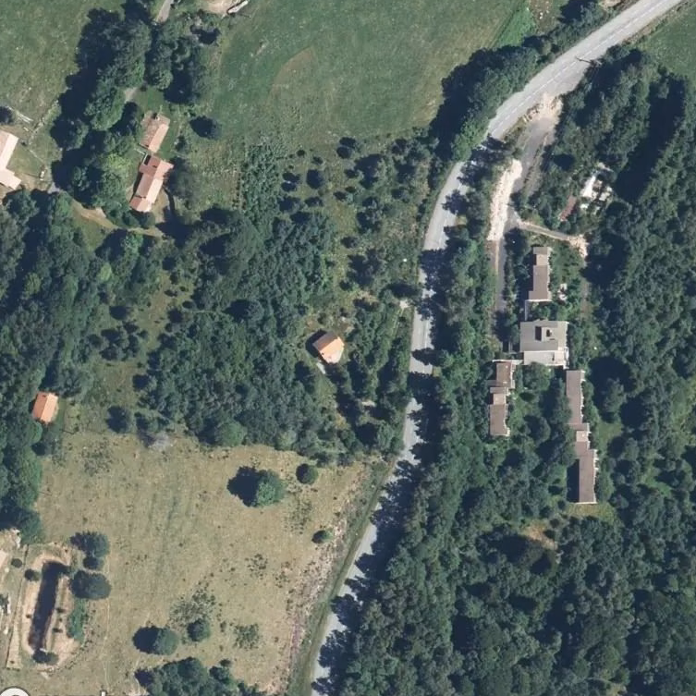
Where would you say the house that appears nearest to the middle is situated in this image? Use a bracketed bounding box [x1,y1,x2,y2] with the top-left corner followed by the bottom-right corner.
[313,331,344,363]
